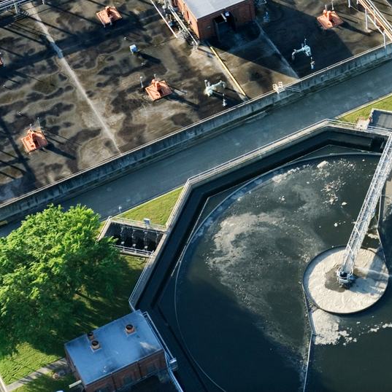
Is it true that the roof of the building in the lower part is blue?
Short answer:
Yes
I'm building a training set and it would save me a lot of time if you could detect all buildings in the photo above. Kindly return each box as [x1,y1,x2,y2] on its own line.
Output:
[63,311,163,392]
[174,0,253,40]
